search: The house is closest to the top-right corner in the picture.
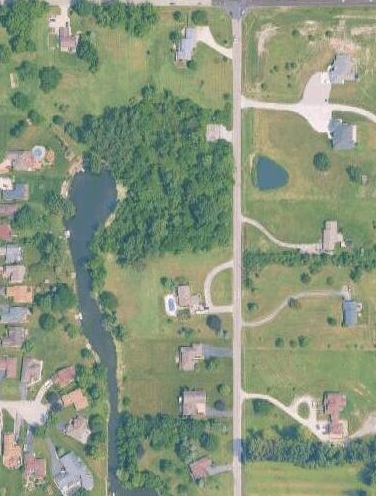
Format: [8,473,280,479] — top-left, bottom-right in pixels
[331,58,360,84]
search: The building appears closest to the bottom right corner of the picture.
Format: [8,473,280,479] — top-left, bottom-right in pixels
[329,393,346,436]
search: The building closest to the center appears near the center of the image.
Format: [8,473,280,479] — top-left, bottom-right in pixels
[179,286,200,308]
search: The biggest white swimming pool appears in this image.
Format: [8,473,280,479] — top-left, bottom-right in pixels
[165,293,178,314]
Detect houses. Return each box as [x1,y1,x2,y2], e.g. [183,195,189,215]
[64,387,90,412]
[0,224,12,240]
[188,458,213,482]
[22,357,41,385]
[60,26,77,51]
[181,26,196,60]
[331,58,360,84]
[329,393,346,436]
[179,286,200,308]
[323,221,339,250]
[25,452,47,479]
[4,434,22,468]
[51,449,96,496]
[8,286,32,302]
[52,365,77,388]
[1,307,29,323]
[0,356,18,378]
[2,184,29,200]
[4,265,25,282]
[64,413,92,441]
[0,201,19,212]
[181,345,205,369]
[184,393,207,415]
[207,124,222,141]
[7,149,31,169]
[3,326,26,346]
[0,245,21,263]
[344,301,357,327]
